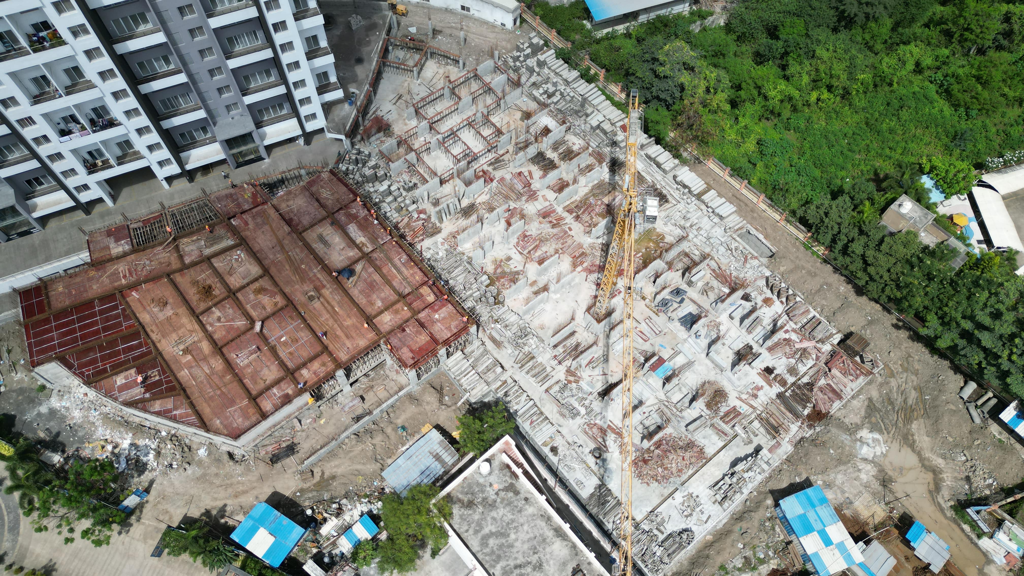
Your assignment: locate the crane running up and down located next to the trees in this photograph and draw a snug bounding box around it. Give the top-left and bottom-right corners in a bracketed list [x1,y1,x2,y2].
[595,86,658,576]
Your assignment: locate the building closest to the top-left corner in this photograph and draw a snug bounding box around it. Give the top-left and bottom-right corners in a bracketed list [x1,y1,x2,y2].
[0,0,344,243]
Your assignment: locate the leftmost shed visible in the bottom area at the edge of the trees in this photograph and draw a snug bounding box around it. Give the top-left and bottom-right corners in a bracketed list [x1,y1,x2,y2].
[123,489,158,520]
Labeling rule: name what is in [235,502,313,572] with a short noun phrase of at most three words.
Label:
shed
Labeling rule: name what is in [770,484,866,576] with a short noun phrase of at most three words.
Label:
shed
